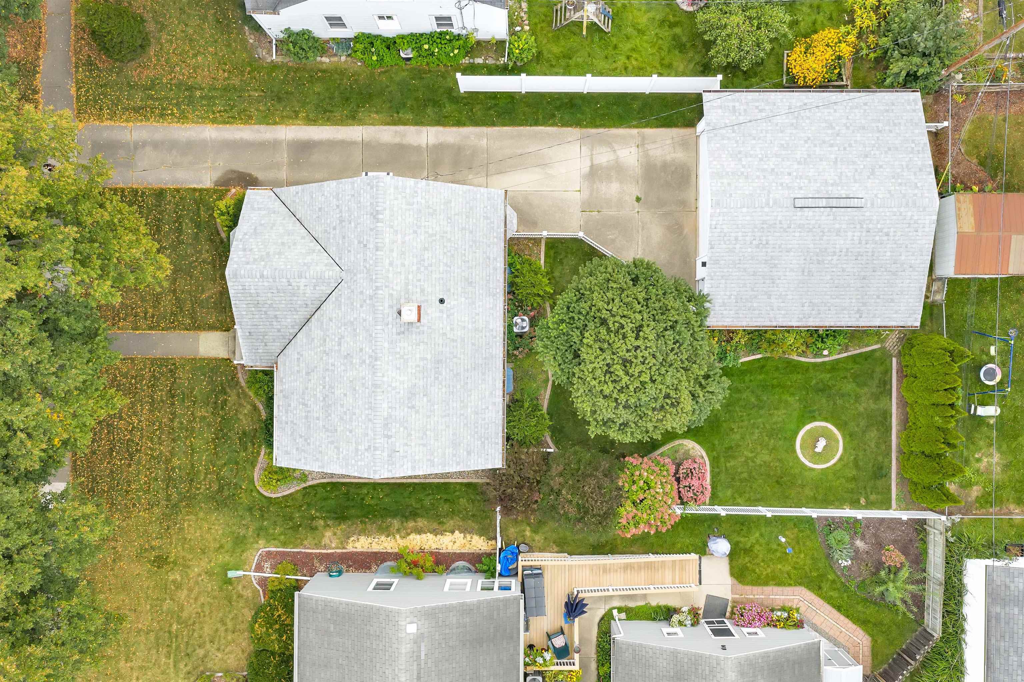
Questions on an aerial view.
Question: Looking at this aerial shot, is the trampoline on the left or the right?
right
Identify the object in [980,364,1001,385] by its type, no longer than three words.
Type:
trampoline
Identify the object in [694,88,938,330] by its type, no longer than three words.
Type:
building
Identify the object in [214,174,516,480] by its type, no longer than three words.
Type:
house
